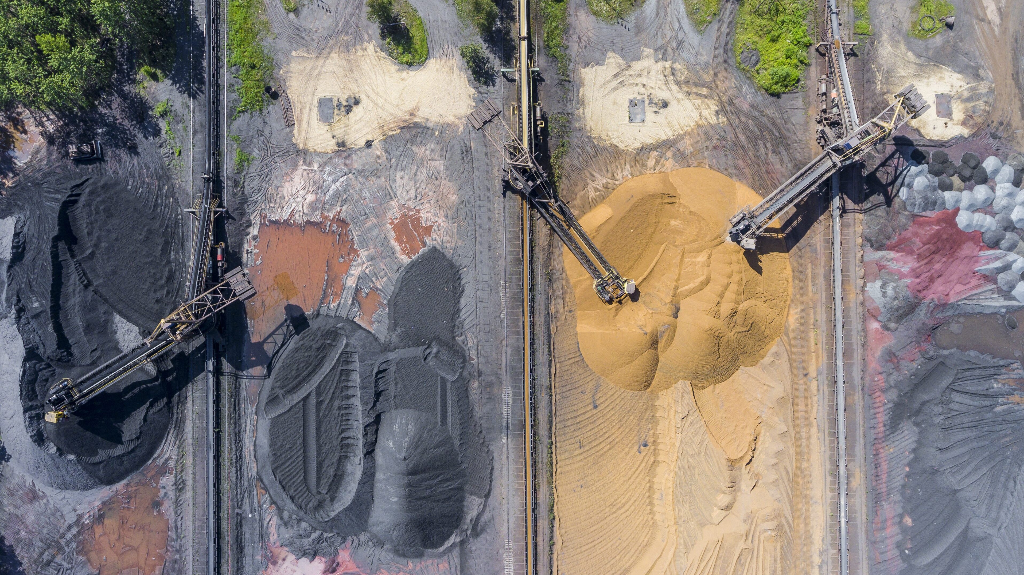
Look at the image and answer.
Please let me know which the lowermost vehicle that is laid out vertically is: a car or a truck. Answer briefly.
car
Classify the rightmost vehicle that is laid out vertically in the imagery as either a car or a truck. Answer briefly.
car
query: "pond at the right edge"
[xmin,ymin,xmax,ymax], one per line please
[957,308,1024,363]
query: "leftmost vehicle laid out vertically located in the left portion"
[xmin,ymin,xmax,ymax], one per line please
[179,170,228,310]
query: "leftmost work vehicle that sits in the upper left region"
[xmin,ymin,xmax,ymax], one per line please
[69,144,103,164]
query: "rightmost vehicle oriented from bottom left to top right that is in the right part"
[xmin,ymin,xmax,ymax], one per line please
[735,78,934,251]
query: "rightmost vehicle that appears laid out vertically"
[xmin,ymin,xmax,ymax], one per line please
[810,25,863,159]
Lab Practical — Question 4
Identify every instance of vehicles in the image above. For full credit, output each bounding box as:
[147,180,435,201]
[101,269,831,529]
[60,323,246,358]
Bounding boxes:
[179,170,228,310]
[810,25,863,159]
[43,264,258,424]
[465,97,637,303]
[69,144,103,164]
[735,78,934,251]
